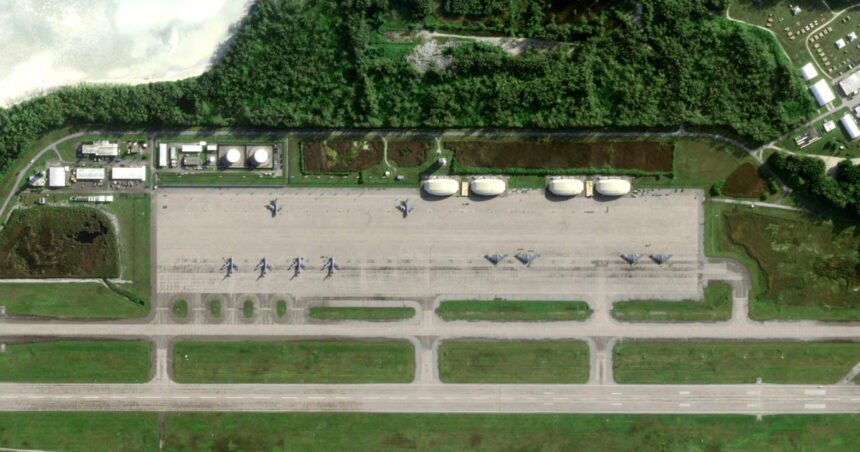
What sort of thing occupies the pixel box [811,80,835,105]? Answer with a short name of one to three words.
building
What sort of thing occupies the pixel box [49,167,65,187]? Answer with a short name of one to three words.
building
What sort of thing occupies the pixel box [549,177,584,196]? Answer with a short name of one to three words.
hangar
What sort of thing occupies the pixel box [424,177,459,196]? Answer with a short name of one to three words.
hangar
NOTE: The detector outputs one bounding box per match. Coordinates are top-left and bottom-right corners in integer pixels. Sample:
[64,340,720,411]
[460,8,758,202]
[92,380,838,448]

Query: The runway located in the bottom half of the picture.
[0,380,860,418]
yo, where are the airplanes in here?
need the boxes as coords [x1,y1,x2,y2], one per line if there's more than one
[256,258,274,276]
[650,254,673,263]
[267,197,285,217]
[515,254,538,263]
[223,257,240,276]
[290,258,308,276]
[485,254,508,263]
[323,257,341,276]
[397,199,416,217]
[621,254,644,263]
